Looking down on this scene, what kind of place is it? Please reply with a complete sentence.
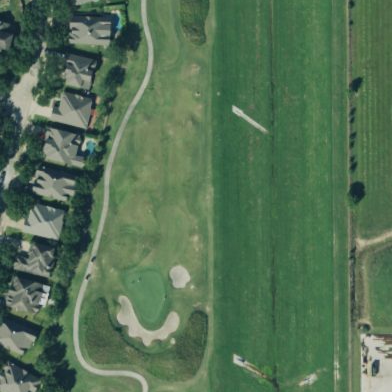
This image shows a golf course.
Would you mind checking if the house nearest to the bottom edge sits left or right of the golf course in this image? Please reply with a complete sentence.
The house nearest to the bottom edge is to the left of the golf course.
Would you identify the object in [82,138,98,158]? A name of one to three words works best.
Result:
swimming pool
